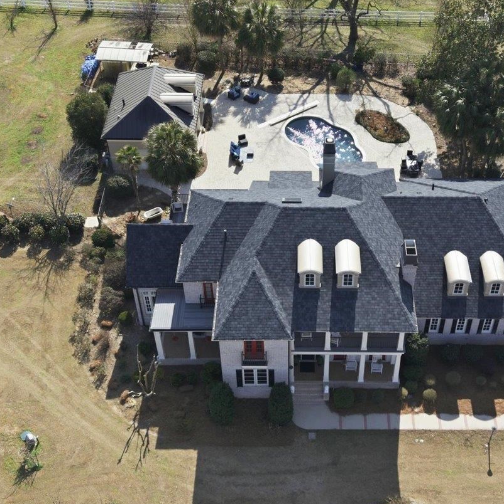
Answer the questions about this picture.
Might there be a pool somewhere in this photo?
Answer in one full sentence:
Yes, a pool is visible in the scene.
